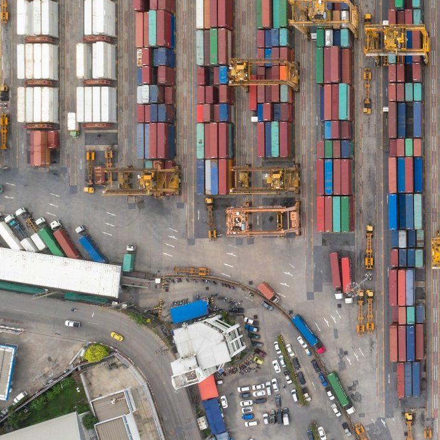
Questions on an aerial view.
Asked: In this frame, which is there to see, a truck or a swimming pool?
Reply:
truck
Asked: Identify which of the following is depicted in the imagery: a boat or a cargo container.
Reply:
cargo container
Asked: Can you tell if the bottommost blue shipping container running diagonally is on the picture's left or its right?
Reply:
right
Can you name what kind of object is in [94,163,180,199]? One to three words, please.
container crane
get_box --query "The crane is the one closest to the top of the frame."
[288,0,359,39]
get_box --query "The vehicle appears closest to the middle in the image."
[206,196,219,247]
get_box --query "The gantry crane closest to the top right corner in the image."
[362,23,430,66]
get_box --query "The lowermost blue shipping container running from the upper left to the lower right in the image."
[294,314,321,347]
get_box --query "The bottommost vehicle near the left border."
[11,387,32,406]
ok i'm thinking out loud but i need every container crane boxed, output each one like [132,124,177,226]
[94,163,180,199]
[288,0,359,39]
[225,201,302,239]
[226,163,301,199]
[225,54,300,95]
[362,23,430,66]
